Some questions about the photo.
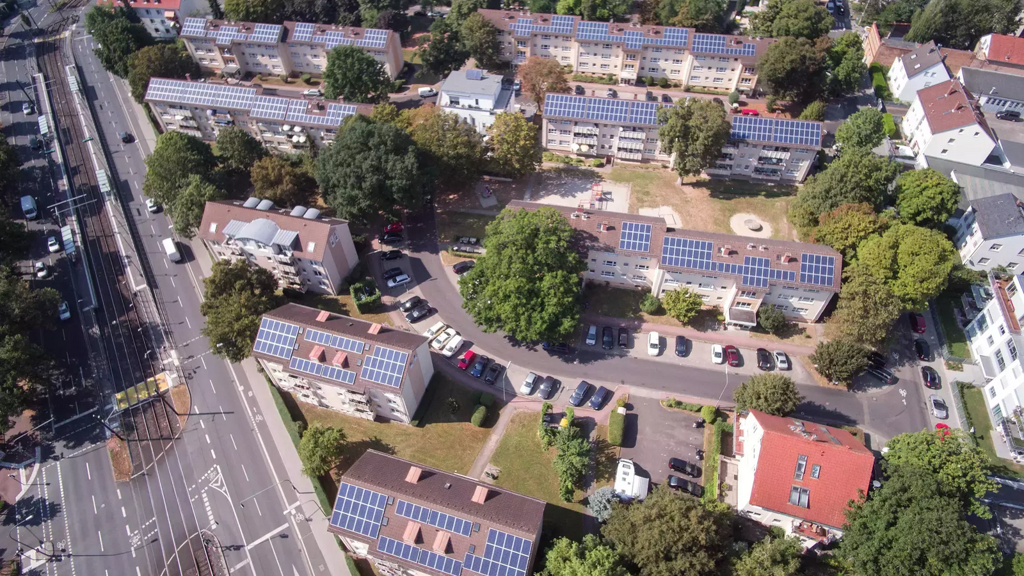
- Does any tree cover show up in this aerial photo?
Yes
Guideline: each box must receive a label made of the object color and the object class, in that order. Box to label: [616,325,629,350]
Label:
black vehicle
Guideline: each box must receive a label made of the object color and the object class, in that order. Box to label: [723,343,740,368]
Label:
red car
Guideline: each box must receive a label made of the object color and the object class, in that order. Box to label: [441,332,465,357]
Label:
white vehicle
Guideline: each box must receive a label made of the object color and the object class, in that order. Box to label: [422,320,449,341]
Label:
white car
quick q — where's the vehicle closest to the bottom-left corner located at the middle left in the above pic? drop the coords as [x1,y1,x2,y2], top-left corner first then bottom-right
[54,301,72,320]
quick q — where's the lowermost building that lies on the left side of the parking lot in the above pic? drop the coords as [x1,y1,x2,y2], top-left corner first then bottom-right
[329,451,546,576]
